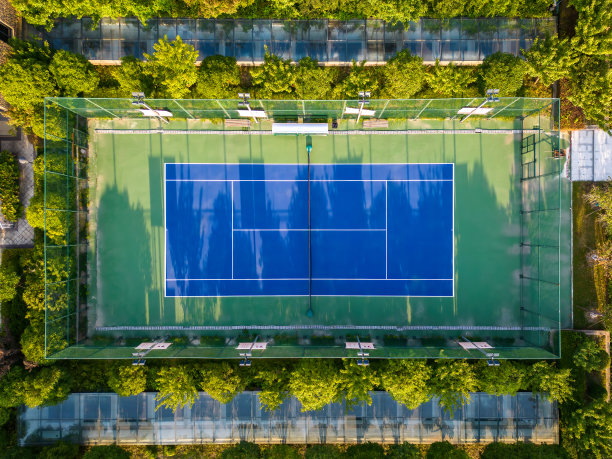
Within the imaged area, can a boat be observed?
No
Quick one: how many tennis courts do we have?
1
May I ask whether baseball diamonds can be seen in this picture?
No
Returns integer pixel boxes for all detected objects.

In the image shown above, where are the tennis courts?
[87,117,571,338]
